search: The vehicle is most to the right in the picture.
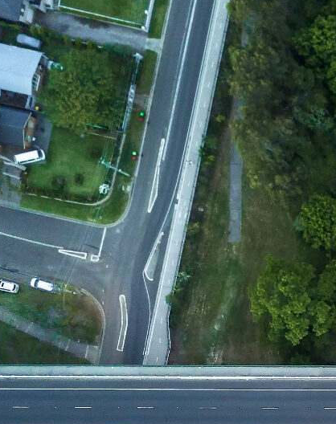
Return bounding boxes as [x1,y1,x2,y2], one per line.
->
[28,277,54,291]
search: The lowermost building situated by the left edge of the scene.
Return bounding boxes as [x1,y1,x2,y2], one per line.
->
[0,106,37,150]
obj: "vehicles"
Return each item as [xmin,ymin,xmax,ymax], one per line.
[28,277,54,291]
[12,147,44,164]
[0,280,17,292]
[15,31,40,46]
